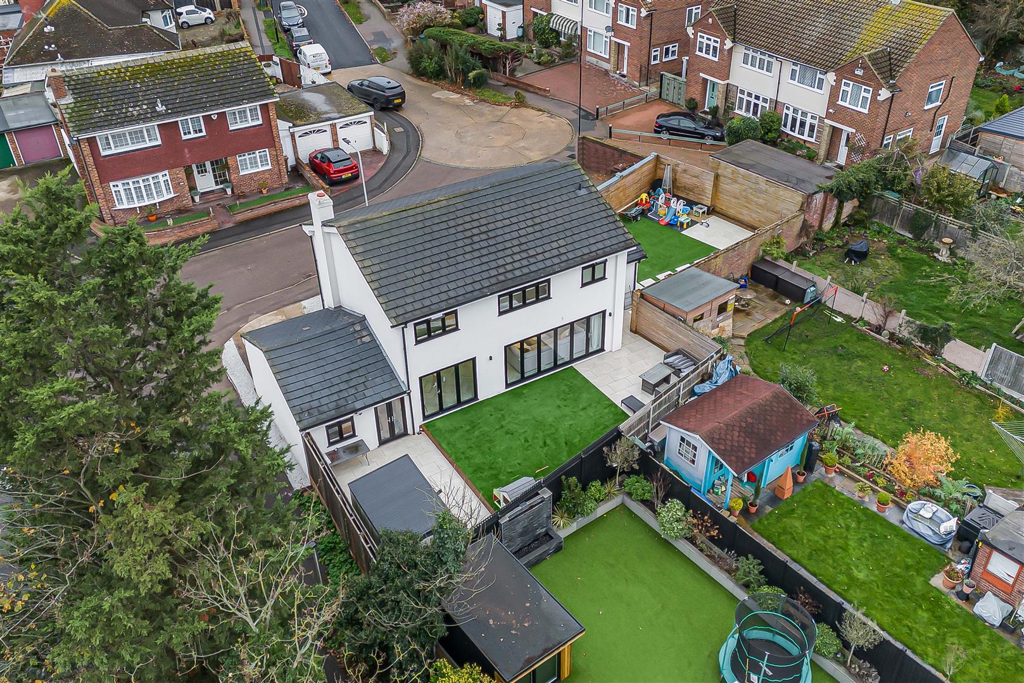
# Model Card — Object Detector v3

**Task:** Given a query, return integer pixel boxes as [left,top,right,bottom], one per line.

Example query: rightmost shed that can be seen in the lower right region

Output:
[967,479,1024,608]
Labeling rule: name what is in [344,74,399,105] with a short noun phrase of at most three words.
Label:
car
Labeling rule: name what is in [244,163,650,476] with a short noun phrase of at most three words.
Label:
house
